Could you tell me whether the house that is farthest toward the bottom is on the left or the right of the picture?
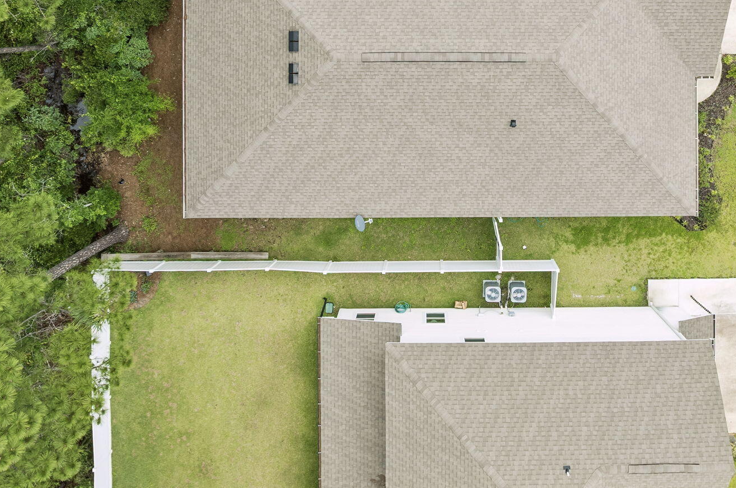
right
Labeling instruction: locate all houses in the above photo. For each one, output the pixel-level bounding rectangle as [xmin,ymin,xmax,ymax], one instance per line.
[183,0,729,220]
[318,295,734,488]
